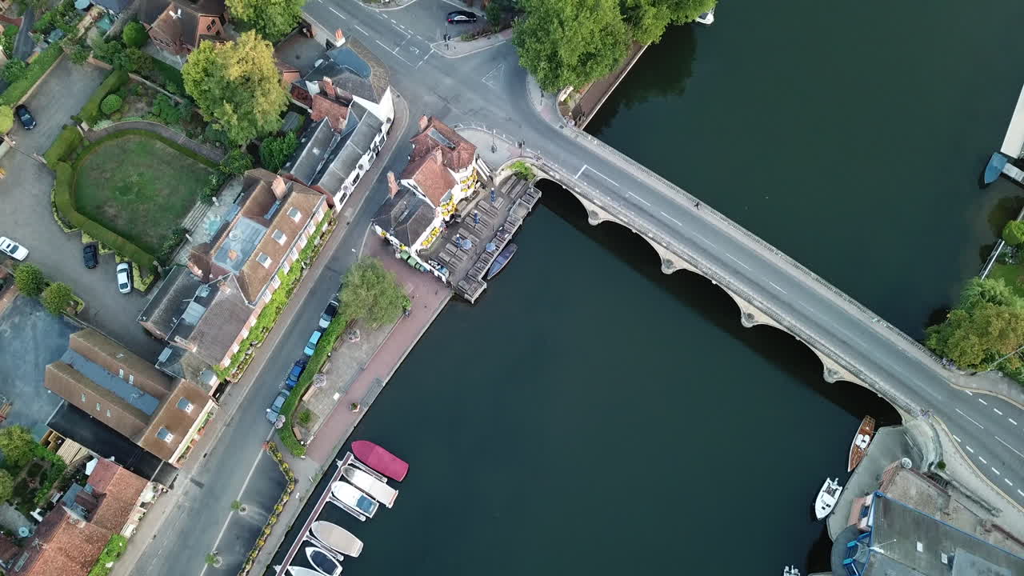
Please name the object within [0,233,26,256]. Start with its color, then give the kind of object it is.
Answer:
white car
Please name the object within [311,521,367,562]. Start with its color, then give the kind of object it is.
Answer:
white boat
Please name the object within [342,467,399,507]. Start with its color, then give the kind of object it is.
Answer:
white boat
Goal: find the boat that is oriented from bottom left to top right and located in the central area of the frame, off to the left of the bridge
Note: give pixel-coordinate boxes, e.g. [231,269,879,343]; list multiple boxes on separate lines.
[488,243,518,280]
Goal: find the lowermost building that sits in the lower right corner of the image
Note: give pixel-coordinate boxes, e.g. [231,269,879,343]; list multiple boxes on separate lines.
[814,490,1024,576]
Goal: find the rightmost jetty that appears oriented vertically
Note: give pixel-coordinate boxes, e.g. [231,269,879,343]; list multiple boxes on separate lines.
[1000,95,1024,160]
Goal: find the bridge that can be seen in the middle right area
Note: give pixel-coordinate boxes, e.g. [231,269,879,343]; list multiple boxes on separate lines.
[531,119,958,421]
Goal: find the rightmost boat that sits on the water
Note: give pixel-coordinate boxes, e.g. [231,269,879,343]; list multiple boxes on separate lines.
[982,152,1011,186]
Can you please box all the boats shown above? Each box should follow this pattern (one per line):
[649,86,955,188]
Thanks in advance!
[693,9,715,27]
[982,152,1011,186]
[782,567,800,576]
[332,481,379,517]
[353,442,410,482]
[815,477,844,520]
[848,415,877,472]
[342,467,399,507]
[488,243,518,280]
[311,521,367,562]
[305,547,344,576]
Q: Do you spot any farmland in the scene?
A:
No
